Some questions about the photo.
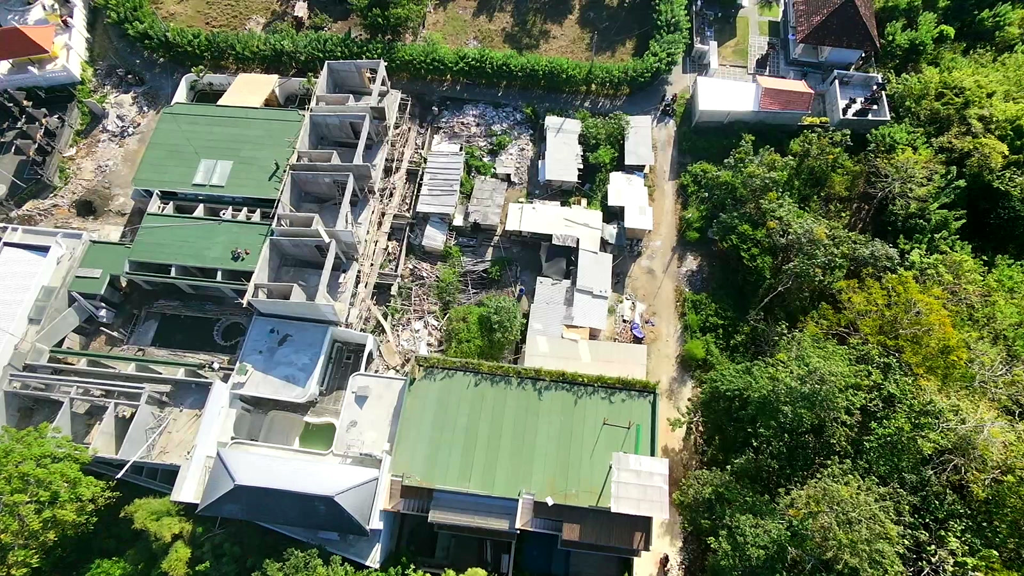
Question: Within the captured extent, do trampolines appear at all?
No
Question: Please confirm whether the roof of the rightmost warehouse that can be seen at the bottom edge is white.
No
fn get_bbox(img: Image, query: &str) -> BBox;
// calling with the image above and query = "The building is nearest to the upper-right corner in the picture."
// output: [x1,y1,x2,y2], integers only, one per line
[788,0,881,71]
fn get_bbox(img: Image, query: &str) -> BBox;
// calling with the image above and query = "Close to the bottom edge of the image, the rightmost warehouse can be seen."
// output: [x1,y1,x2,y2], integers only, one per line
[386,355,659,576]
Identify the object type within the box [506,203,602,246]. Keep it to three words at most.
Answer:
shed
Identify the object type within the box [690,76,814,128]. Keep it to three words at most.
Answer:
building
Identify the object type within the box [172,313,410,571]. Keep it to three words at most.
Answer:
house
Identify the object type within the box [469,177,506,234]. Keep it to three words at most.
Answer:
shed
